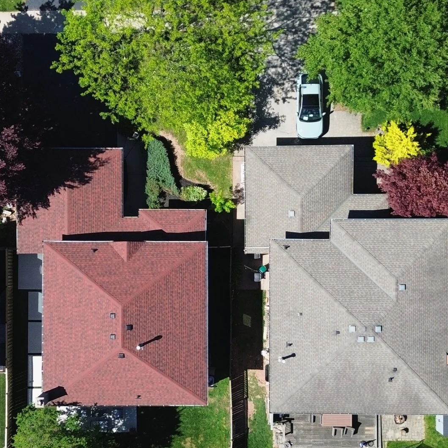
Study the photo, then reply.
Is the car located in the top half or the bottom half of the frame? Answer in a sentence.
The top half of the photo is where the car is.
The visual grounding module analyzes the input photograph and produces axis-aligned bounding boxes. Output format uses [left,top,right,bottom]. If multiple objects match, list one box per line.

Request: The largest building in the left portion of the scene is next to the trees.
[14,146,209,409]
